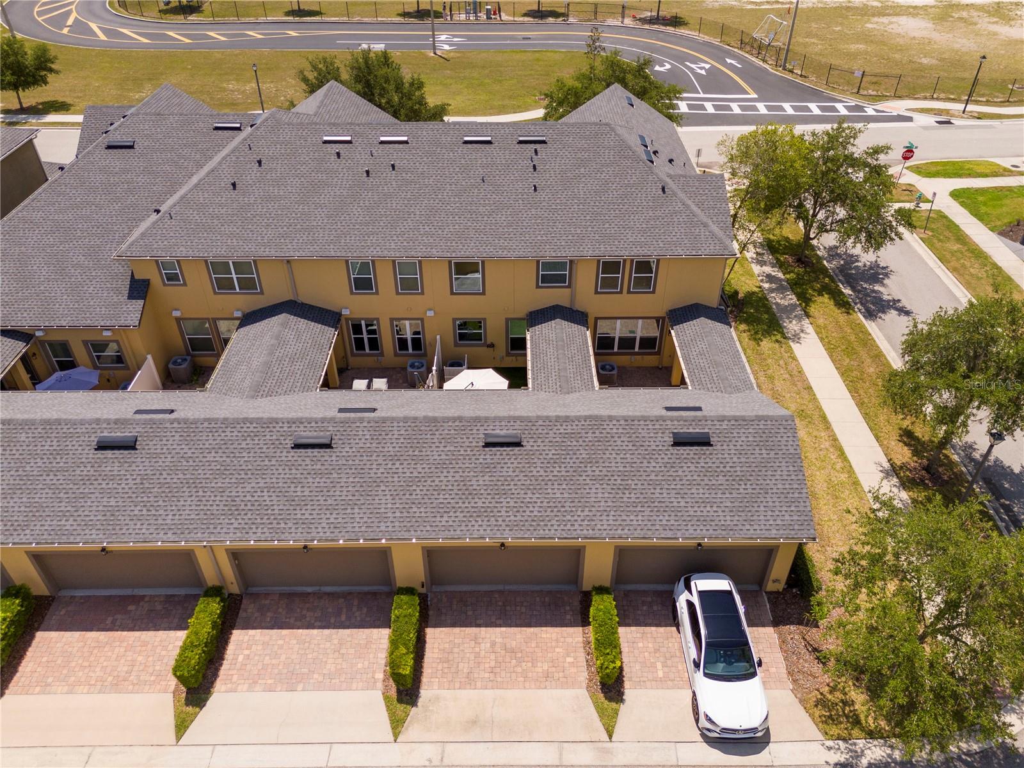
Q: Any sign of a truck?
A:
No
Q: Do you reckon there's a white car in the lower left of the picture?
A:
No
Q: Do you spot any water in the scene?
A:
No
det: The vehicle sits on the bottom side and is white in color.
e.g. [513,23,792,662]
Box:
[673,579,770,741]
